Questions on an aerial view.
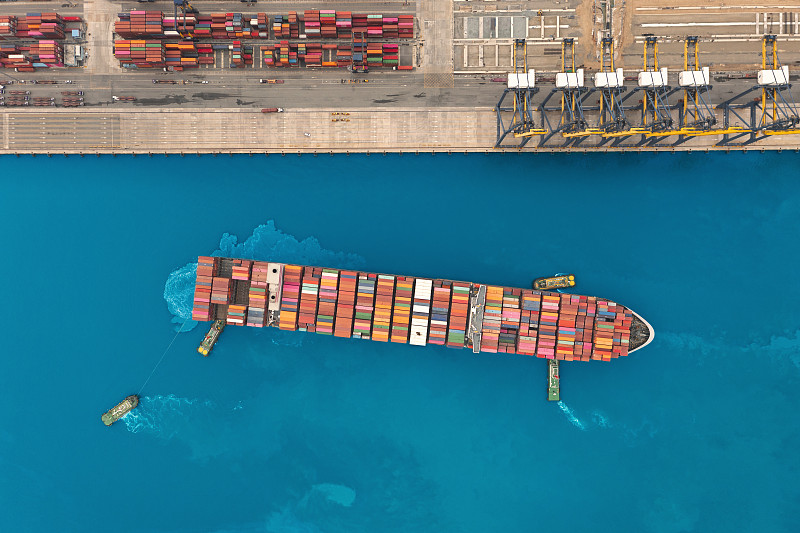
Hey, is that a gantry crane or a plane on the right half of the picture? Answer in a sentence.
Visible on the right half of the picture is a gantry crane.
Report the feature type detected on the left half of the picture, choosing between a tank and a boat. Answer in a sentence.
Looking on the left half of the picture, you will find a boat.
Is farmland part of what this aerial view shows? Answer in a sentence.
No, there is no farmland in the image.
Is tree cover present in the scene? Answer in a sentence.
No, no tree cover is visible.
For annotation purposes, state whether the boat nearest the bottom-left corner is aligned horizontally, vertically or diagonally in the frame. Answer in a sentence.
Seen from above, the boat nearest the bottom-left corner lies diagonally.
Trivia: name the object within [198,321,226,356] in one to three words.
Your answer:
boat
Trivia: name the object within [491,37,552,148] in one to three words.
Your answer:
container crane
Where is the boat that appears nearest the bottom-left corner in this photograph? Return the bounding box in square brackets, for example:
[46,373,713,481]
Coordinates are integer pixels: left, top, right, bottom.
[102,393,140,425]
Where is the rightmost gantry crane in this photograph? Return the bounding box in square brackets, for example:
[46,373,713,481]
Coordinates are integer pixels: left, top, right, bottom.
[709,36,800,148]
